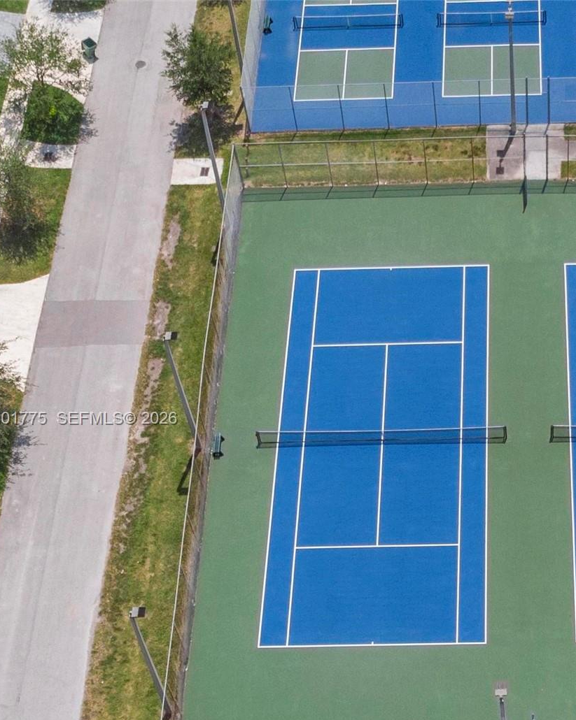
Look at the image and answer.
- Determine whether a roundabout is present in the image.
No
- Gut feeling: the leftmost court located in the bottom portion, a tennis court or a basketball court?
tennis court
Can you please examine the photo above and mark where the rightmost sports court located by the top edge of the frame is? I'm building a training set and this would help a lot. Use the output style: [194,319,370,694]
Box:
[443,0,542,96]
